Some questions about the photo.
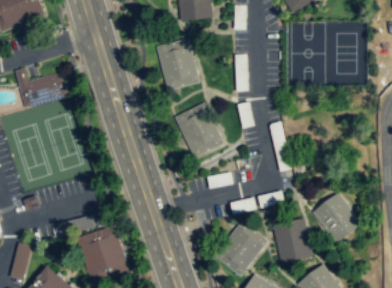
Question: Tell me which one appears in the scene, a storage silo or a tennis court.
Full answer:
Visible in the photo is a tennis court.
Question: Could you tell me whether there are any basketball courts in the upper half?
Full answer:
Yes, a basketball court appears in the upper half.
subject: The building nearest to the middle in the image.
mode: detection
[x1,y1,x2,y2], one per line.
[176,104,226,158]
